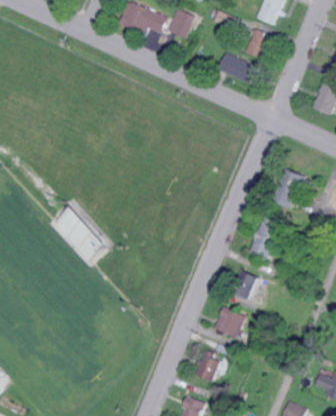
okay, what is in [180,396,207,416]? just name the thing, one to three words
house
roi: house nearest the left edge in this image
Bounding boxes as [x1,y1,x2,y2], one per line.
[122,2,172,38]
